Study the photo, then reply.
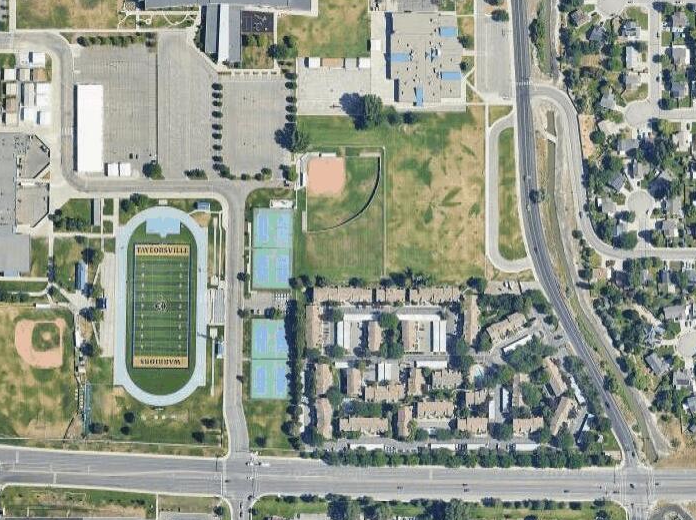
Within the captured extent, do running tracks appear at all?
Yes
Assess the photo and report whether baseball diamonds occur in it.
Yes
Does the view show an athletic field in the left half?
Yes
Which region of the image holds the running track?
left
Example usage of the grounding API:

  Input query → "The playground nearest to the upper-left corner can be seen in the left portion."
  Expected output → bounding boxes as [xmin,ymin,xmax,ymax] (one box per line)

[241,11,273,32]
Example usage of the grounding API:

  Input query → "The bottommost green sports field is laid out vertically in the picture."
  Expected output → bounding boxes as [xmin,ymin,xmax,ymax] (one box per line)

[126,222,196,395]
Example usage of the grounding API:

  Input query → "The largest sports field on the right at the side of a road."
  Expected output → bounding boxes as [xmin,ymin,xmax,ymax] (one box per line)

[386,112,484,281]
